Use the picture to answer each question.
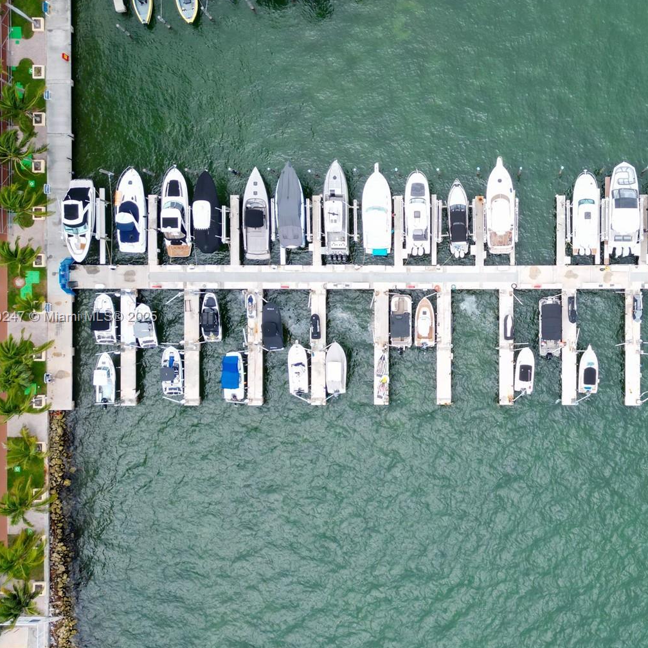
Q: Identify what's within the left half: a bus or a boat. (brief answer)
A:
boat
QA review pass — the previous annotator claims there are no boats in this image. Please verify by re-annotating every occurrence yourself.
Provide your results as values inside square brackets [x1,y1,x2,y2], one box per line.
[259,300,285,355]
[287,339,309,396]
[223,352,248,405]
[363,161,392,256]
[243,167,270,261]
[538,296,563,361]
[578,345,599,396]
[571,168,600,257]
[62,180,97,262]
[404,168,430,255]
[415,297,436,350]
[133,302,161,348]
[486,155,515,258]
[160,347,185,394]
[130,0,156,24]
[247,294,256,318]
[447,177,469,259]
[201,292,223,342]
[515,347,535,394]
[323,160,351,262]
[160,163,194,258]
[115,165,149,254]
[609,162,640,259]
[390,293,412,355]
[90,293,119,345]
[93,353,120,409]
[193,168,223,254]
[276,162,306,249]
[176,0,200,23]
[326,342,348,398]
